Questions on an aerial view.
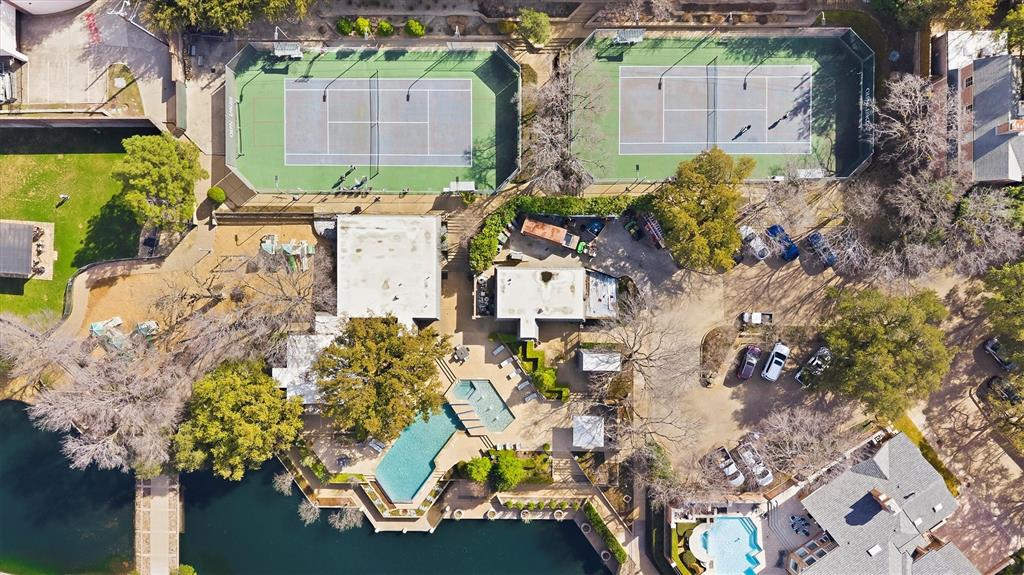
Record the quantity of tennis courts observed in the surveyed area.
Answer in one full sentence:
Looking from above, you can make out 2 tennis courts.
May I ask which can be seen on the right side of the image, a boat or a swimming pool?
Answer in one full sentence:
What appears on the right side of the image is a swimming pool.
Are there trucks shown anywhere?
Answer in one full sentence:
Yes, you can see a truck in this photo.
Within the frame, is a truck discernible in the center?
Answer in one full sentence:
Yes, looking in the center, one can make out a truck.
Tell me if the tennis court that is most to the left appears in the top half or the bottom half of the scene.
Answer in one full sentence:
It is in the top half that the tennis court that is most to the left appears.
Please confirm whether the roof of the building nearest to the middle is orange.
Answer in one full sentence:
No, the roof of the building nearest to the middle is actually white.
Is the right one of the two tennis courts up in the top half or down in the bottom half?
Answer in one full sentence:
The top half of the photo is where the right one of the two tennis courts is.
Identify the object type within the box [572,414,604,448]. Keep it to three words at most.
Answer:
building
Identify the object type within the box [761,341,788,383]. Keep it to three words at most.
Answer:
car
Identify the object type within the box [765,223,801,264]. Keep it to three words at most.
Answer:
car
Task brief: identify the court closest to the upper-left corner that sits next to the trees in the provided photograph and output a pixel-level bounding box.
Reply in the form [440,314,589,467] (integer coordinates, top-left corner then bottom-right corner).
[236,50,521,196]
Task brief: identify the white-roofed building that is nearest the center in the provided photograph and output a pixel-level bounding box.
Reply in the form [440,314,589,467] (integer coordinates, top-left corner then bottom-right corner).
[497,267,585,338]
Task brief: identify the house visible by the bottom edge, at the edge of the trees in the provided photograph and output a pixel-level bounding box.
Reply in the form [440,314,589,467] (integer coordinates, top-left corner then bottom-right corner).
[783,432,980,575]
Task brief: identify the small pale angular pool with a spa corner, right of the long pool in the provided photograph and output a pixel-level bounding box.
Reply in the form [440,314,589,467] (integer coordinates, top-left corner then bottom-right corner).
[451,378,518,435]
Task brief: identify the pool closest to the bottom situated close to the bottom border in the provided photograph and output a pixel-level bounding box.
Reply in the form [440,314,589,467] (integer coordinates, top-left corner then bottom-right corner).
[690,513,768,575]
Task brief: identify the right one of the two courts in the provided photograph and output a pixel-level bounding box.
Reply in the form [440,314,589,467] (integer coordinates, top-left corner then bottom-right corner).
[568,37,862,187]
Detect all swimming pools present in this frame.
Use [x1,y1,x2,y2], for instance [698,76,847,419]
[373,359,493,505]
[451,378,518,435]
[690,513,768,575]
